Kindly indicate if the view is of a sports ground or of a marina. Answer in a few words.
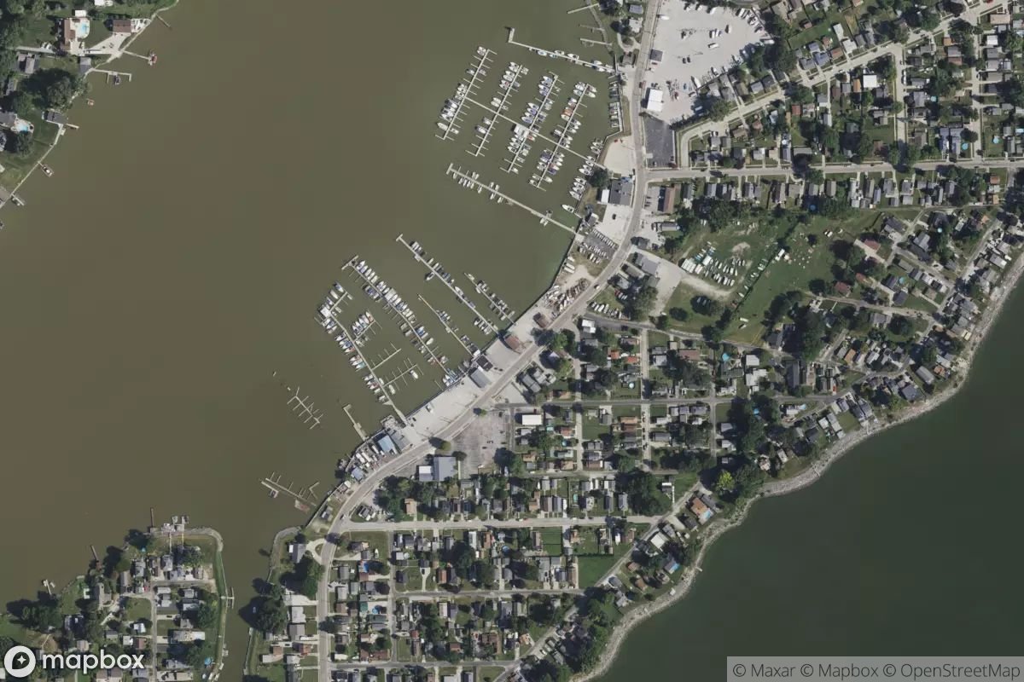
marina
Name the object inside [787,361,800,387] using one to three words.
building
